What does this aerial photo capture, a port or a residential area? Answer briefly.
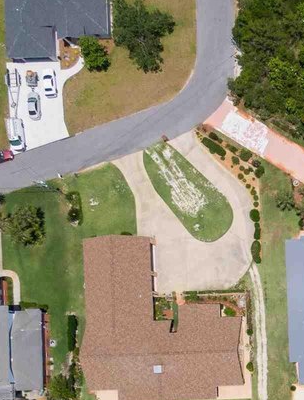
residential area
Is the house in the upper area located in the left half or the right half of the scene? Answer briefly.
left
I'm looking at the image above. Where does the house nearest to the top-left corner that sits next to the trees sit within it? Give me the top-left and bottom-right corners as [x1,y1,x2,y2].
[4,0,114,62]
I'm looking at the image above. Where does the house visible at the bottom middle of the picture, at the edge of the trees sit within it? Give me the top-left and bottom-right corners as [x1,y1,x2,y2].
[79,236,246,400]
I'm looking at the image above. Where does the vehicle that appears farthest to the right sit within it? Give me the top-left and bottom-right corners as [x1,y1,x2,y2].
[43,69,59,98]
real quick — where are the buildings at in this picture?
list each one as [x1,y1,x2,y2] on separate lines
[4,0,114,62]
[286,235,304,385]
[0,280,51,400]
[79,236,246,400]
